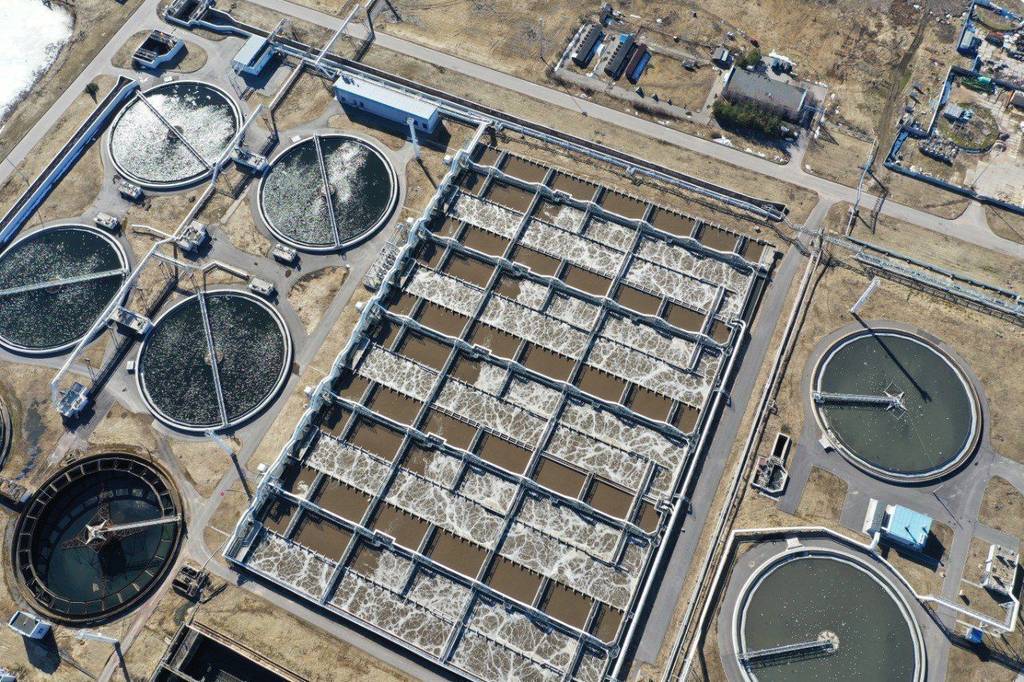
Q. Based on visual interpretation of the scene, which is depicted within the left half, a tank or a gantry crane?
tank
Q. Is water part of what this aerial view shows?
Yes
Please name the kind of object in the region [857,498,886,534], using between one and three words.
house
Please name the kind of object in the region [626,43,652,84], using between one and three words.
shed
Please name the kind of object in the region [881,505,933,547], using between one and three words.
house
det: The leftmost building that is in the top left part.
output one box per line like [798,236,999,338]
[222,34,278,79]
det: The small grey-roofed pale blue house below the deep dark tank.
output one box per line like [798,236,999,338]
[8,611,50,637]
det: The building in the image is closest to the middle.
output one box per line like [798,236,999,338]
[363,217,408,293]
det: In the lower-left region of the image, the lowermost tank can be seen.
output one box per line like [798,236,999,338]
[12,454,189,623]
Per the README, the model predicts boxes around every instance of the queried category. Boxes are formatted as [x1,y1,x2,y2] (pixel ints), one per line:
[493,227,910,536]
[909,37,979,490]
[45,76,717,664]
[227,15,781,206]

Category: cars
[681,56,699,68]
